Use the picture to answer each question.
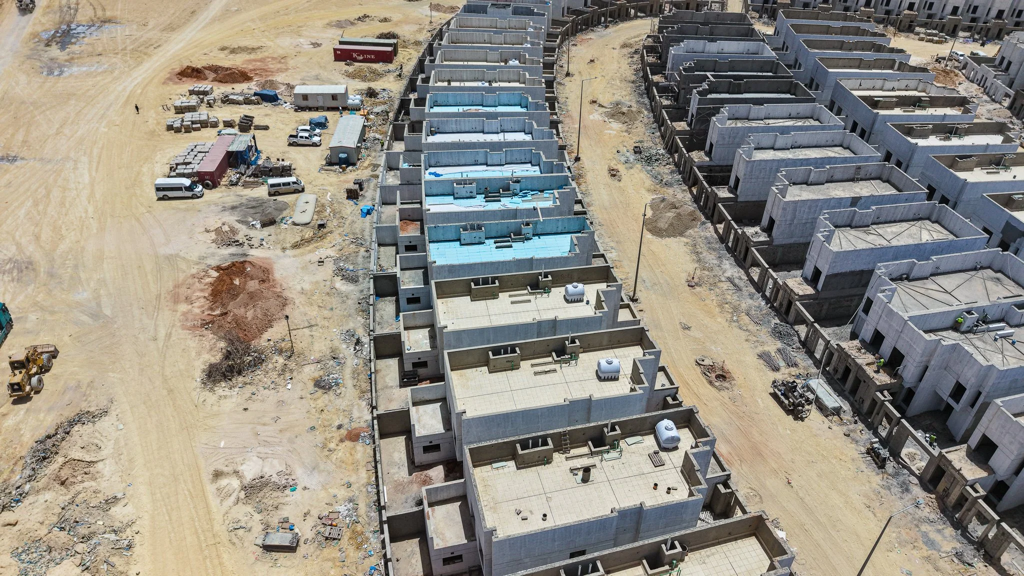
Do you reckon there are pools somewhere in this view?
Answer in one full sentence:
No, there appears to be no pool in this shot.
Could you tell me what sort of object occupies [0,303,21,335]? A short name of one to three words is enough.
truck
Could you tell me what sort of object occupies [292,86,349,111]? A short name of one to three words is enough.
building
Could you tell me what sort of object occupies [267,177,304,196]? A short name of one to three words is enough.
vehicle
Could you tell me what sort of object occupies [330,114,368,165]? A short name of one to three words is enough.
building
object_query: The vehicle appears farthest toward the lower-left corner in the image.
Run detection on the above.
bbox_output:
[0,342,63,398]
